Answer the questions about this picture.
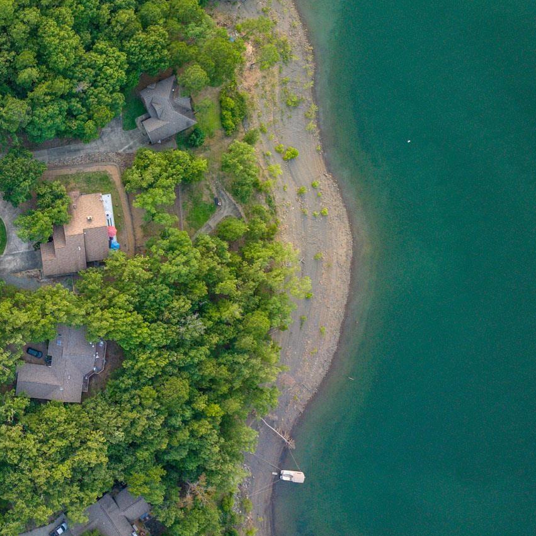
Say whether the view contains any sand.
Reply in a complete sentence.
Yes, sand can be seen from above here.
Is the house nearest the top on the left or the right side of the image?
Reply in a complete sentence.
The house nearest the top is on the left side of the image.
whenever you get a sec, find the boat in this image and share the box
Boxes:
[280,471,306,484]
